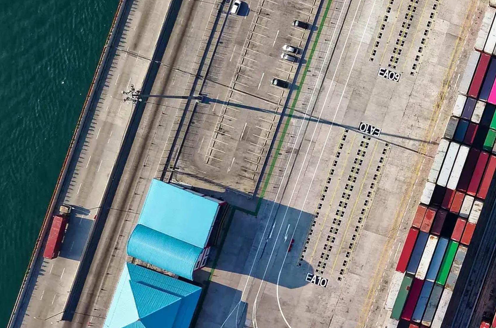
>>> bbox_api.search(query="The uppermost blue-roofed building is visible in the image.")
[127,177,230,279]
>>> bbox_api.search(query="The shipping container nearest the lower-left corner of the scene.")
[44,214,70,258]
